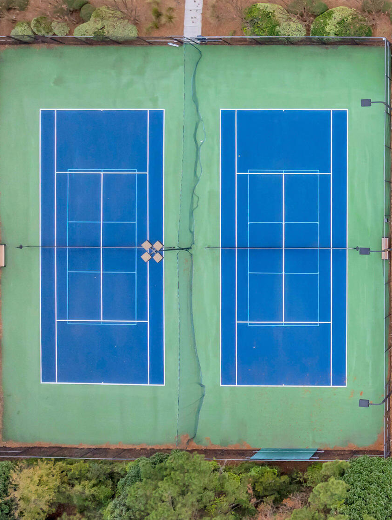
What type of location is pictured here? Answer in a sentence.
This looks like a sports ground.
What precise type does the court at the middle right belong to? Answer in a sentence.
Looking closely, the court at the middle right is a tennis court.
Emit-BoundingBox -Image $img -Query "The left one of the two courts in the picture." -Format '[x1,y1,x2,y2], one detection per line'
[0,44,193,446]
